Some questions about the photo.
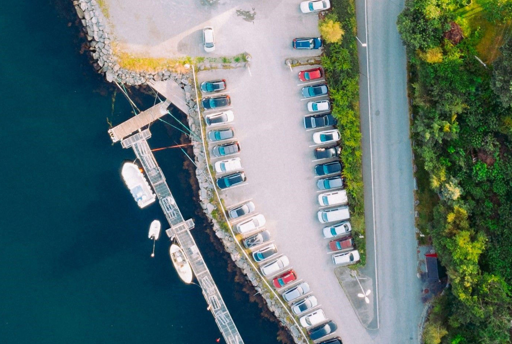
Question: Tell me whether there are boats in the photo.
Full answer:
Yes, this view includes a boat.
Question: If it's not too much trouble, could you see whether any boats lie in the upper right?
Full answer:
No, I see no boat in the upper right.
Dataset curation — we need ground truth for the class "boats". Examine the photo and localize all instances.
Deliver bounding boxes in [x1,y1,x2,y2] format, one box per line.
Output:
[149,220,160,241]
[171,244,191,283]
[122,161,155,210]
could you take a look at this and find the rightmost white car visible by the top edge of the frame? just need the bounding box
[300,0,331,13]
